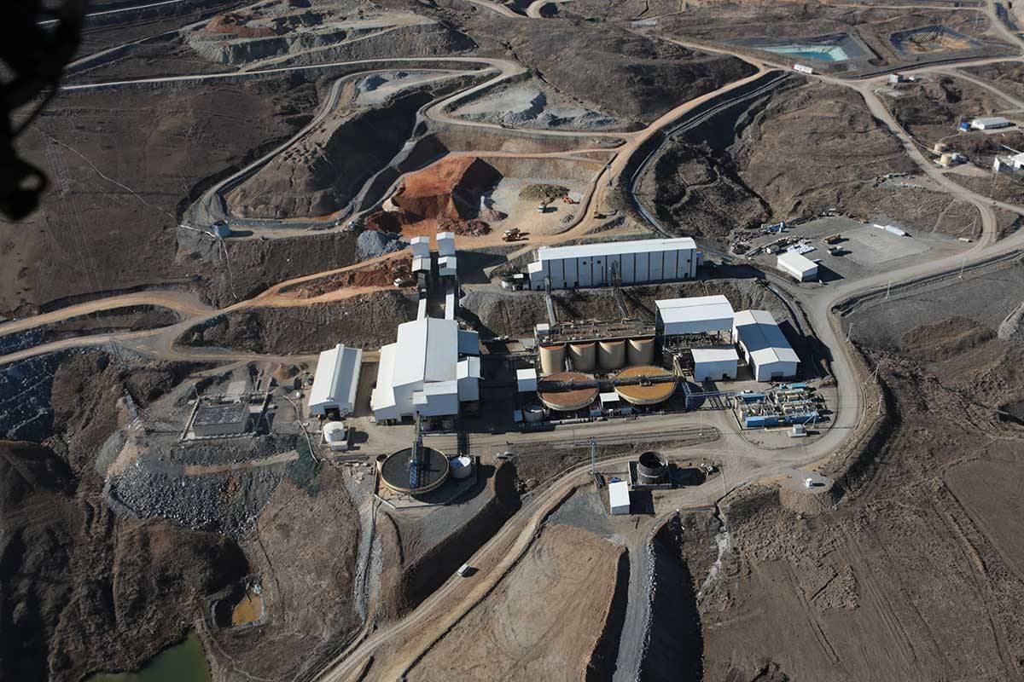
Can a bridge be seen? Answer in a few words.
Yes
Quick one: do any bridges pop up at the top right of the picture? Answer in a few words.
No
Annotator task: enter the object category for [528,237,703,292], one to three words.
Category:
building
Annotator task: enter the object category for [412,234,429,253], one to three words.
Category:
house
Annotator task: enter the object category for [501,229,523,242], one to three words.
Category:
vehicle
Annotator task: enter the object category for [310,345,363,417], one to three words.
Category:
shed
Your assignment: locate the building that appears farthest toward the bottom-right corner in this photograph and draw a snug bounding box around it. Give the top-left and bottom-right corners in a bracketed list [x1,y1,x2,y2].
[785,419,809,437]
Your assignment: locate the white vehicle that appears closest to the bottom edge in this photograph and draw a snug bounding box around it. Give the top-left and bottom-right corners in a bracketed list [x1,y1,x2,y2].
[456,564,471,576]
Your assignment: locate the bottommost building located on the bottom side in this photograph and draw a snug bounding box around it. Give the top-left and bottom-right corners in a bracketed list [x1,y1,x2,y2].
[606,482,631,515]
